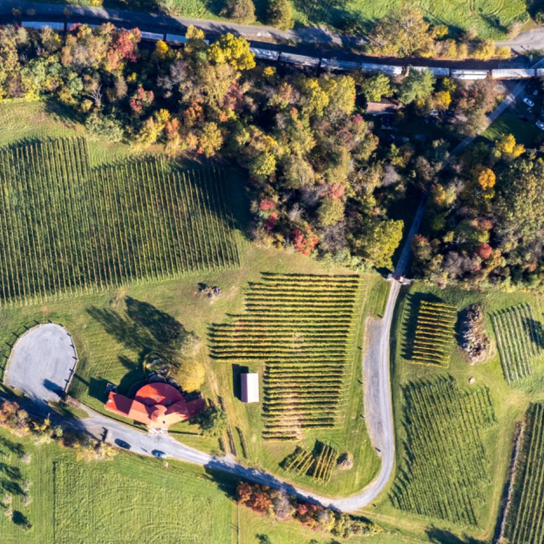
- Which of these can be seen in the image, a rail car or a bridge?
rail car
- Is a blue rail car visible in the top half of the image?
Yes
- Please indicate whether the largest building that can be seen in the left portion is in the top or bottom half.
bottom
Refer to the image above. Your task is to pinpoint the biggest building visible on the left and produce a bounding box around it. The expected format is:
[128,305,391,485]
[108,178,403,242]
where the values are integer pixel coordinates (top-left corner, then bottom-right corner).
[106,373,205,436]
